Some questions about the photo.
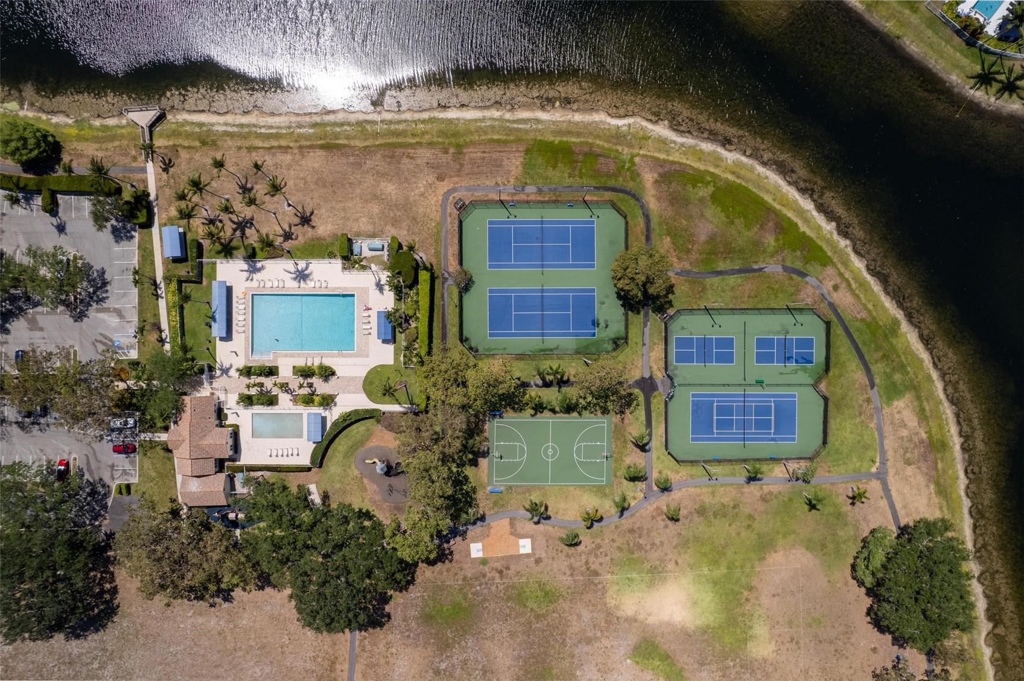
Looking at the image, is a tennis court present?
Yes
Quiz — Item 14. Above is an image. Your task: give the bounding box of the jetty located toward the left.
[122,105,166,169]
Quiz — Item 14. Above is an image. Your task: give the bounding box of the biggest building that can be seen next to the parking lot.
[164,396,233,507]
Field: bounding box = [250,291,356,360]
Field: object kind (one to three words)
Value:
swimming pool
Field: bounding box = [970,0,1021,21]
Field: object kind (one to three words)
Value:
swimming pool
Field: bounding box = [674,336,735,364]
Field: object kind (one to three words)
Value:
sports court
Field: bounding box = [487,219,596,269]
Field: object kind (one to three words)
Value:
tennis court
